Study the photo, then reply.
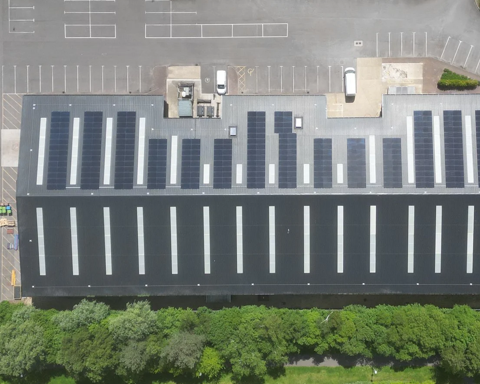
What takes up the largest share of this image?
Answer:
buildings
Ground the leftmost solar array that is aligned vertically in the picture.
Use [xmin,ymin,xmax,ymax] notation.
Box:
[47,111,69,190]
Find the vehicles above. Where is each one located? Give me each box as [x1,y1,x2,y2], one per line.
[344,68,356,97]
[215,70,227,94]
